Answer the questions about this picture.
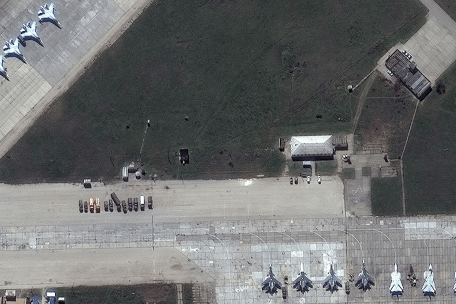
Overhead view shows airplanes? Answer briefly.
Yes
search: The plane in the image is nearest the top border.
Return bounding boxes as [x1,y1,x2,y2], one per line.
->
[36,0,61,24]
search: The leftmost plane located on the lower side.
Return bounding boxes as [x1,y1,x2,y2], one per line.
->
[261,264,281,292]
